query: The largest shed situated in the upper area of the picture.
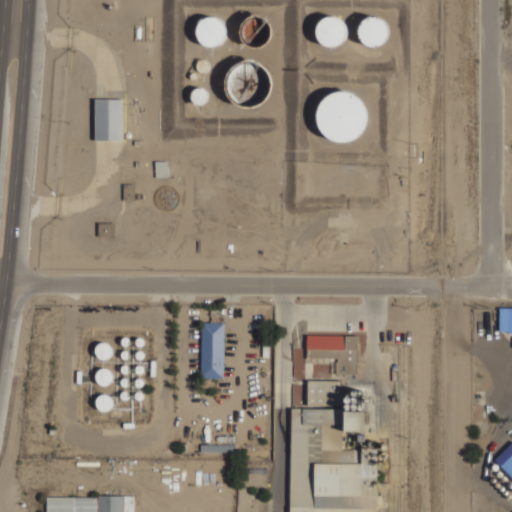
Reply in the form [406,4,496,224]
[94,98,124,141]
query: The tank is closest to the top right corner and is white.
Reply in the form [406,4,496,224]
[358,16,390,49]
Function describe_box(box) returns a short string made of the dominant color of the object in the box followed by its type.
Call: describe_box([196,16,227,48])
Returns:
white storage tank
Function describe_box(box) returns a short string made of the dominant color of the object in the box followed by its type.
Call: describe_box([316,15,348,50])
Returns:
white storage tank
